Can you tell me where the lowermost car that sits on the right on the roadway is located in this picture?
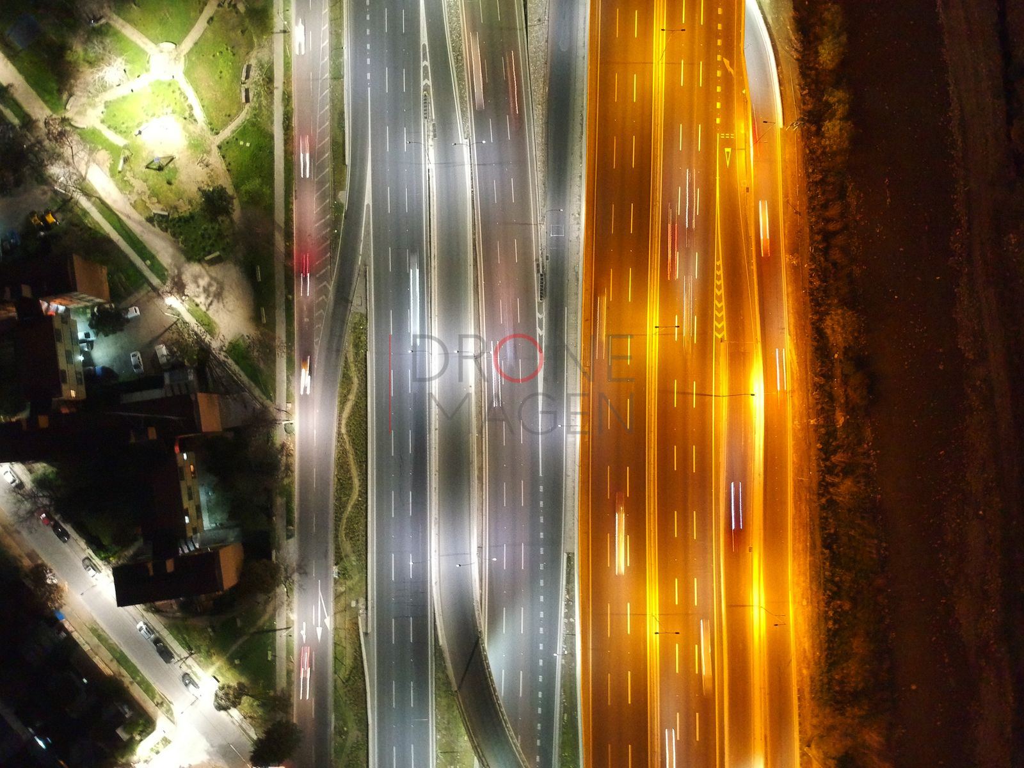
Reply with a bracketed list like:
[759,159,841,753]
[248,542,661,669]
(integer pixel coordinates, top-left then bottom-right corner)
[665,738,677,765]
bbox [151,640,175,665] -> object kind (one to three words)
car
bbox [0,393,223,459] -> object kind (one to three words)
building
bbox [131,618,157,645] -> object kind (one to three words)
truck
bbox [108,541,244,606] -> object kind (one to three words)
building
